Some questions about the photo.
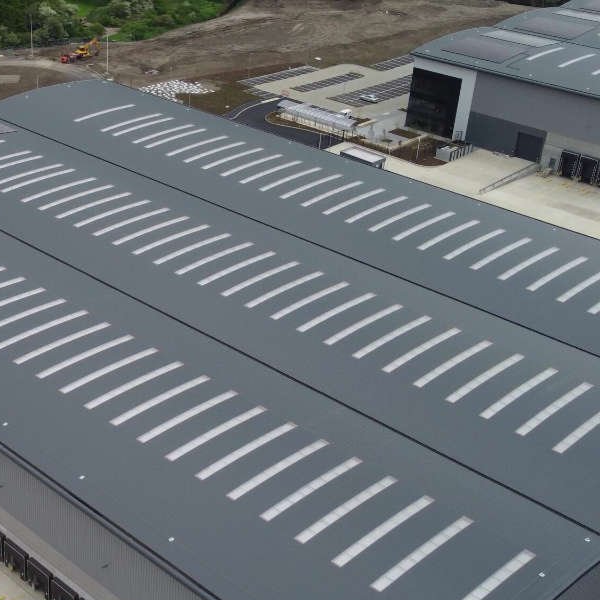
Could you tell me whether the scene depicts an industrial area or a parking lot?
industrial area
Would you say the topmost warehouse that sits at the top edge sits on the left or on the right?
right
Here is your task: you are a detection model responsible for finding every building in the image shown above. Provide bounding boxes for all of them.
[403,0,600,187]
[0,77,600,600]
